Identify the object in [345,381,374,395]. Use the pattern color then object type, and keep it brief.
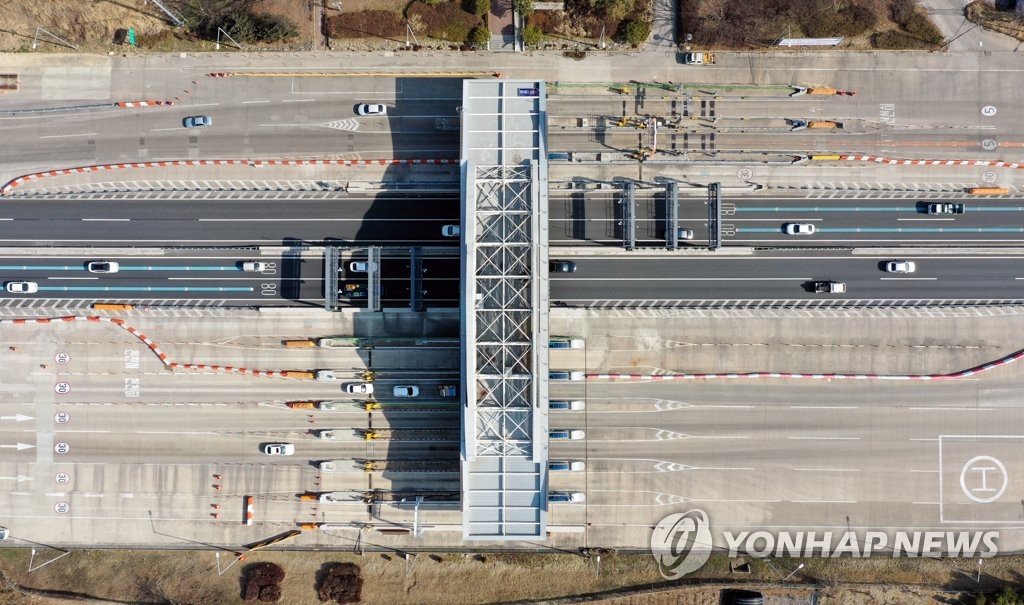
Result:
white car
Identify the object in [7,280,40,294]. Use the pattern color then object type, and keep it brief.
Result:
white car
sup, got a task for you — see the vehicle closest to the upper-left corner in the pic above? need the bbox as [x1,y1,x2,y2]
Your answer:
[184,114,214,128]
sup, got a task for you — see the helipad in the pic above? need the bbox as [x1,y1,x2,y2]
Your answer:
[941,436,1024,523]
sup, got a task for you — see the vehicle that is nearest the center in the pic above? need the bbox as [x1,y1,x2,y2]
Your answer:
[548,260,576,273]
